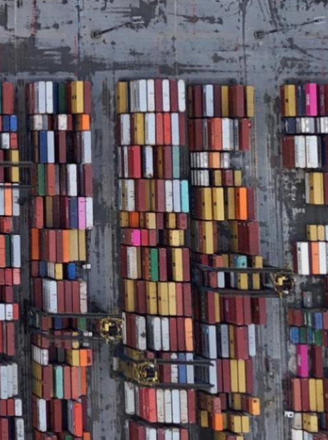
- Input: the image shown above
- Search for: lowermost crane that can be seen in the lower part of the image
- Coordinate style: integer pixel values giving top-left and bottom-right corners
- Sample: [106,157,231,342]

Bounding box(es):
[115,345,212,392]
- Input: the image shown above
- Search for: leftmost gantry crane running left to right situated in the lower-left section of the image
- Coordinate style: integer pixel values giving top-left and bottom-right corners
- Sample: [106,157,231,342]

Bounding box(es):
[28,301,119,344]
